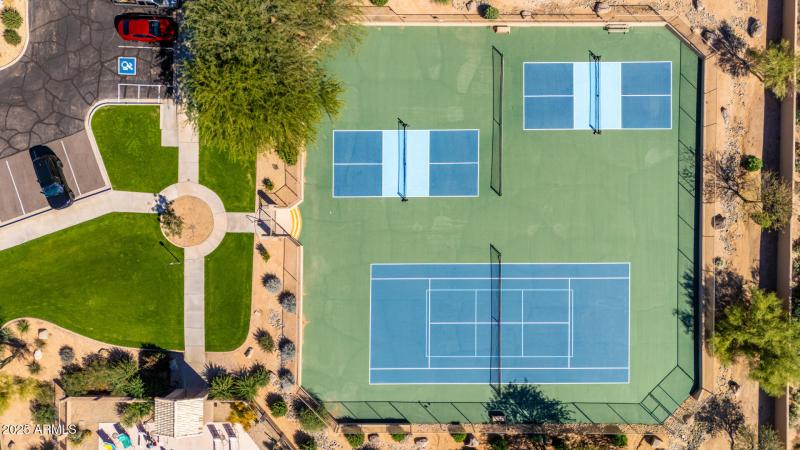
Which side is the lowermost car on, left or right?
left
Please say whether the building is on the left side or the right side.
left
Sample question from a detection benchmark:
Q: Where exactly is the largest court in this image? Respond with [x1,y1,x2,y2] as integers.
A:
[370,263,630,384]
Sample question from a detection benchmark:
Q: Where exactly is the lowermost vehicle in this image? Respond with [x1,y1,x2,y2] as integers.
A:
[32,148,73,205]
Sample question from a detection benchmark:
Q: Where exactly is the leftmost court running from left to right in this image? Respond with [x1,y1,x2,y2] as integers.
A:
[333,129,479,198]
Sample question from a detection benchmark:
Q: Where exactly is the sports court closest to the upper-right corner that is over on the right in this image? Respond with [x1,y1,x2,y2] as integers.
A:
[523,62,672,130]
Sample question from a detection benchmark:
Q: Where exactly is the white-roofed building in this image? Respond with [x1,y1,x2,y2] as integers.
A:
[154,391,212,439]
